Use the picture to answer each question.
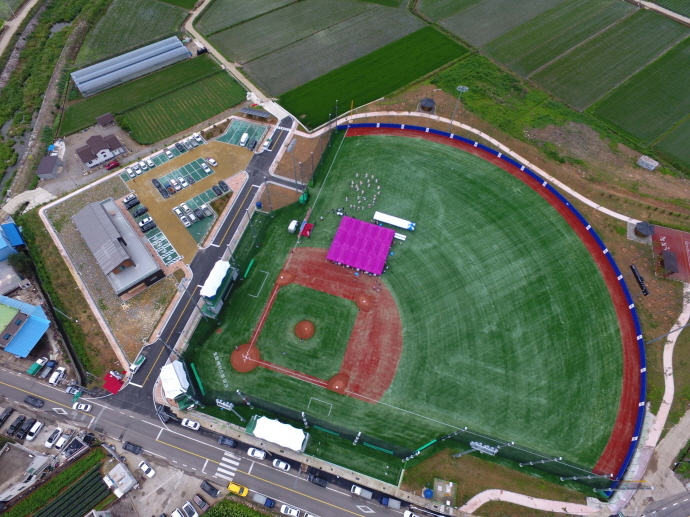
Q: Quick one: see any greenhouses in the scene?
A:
Yes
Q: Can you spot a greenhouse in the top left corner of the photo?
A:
Yes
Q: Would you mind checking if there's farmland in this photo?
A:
Yes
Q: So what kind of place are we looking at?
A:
sports ground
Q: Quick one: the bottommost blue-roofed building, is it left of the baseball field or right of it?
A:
left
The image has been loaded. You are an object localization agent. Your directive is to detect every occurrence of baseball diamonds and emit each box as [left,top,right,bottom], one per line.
[180,127,639,498]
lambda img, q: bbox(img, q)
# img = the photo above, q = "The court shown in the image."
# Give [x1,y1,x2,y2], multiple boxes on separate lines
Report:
[653,225,690,283]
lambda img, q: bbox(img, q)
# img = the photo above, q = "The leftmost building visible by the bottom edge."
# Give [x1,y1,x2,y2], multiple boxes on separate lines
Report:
[0,443,53,501]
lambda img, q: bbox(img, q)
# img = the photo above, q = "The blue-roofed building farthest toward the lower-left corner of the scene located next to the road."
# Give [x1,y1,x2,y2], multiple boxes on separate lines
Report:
[0,295,59,357]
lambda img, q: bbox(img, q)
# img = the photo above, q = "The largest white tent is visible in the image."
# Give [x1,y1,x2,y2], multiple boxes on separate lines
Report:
[373,212,416,235]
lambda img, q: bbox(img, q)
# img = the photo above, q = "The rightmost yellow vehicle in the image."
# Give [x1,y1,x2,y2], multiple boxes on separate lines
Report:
[228,483,248,496]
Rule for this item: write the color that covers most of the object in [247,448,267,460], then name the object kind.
white vehicle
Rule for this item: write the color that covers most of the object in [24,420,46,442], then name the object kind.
white vehicle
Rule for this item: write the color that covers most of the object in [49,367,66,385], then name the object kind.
white car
